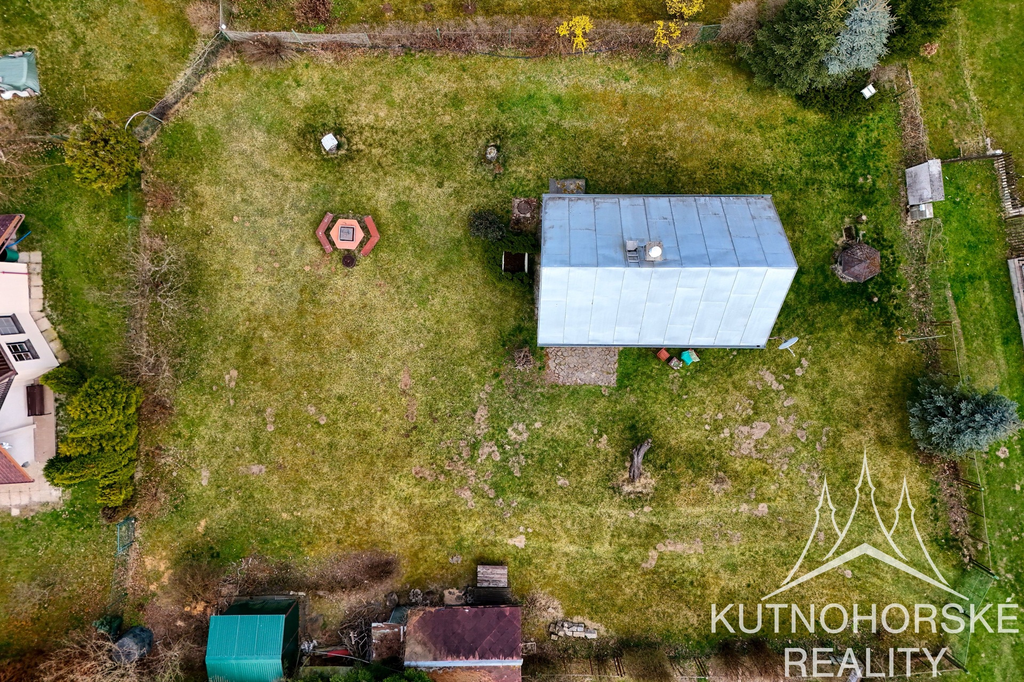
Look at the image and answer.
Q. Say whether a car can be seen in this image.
No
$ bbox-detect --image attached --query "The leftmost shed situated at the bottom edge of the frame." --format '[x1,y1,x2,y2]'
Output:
[205,599,301,682]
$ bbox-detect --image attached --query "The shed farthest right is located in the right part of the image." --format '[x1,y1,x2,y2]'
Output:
[905,159,944,205]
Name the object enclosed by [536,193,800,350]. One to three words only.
house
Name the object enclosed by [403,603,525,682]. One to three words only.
shed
